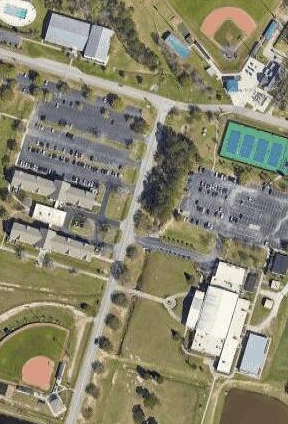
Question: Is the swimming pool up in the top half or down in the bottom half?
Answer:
top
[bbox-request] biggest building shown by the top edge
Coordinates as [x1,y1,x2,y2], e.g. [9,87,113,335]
[43,12,115,64]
